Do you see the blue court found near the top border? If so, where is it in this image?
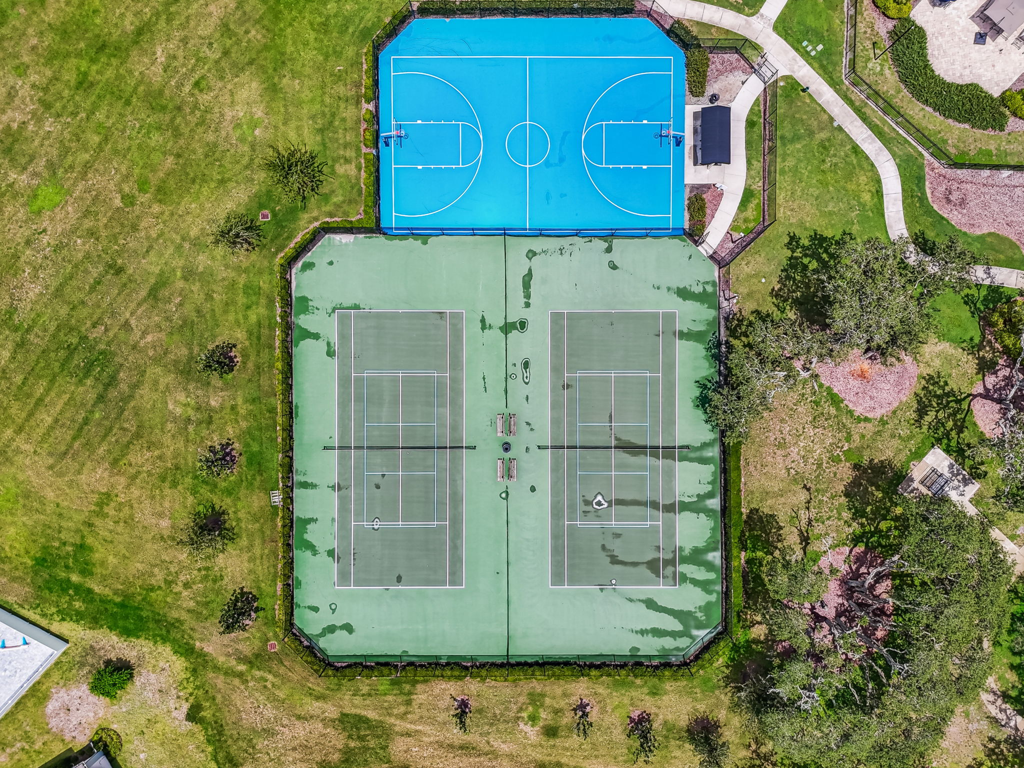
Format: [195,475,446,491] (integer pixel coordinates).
[378,16,686,236]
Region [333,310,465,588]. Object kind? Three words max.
tennis court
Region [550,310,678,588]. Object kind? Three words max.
tennis court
